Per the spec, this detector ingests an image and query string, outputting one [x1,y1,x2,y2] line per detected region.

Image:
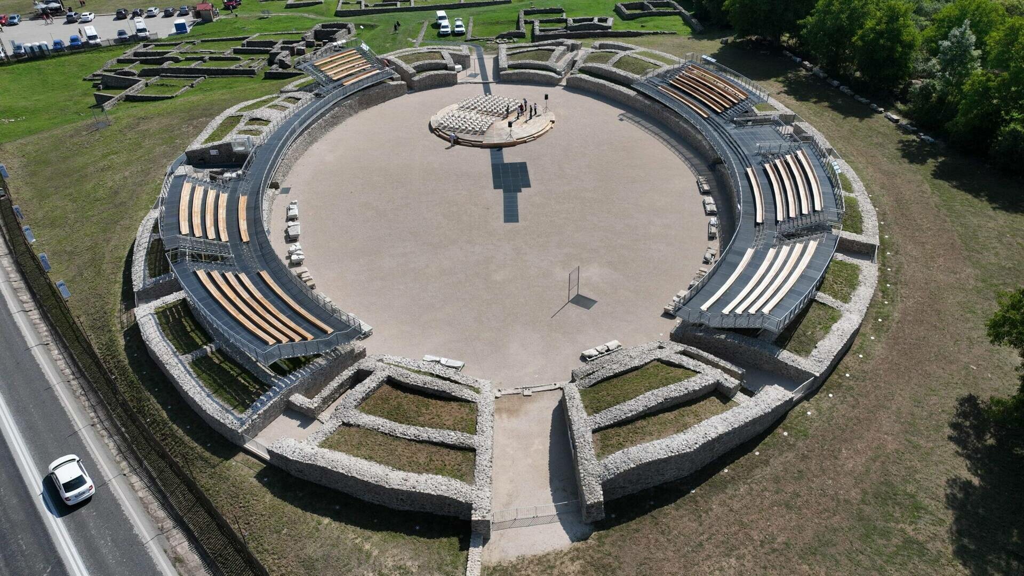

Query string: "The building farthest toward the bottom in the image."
[93,74,207,116]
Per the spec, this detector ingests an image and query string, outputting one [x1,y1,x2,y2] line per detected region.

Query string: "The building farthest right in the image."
[614,0,705,35]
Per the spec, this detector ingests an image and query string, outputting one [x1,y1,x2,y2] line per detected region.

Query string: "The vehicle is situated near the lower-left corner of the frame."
[47,456,98,511]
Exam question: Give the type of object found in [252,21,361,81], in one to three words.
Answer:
building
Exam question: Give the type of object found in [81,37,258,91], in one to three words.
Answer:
building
